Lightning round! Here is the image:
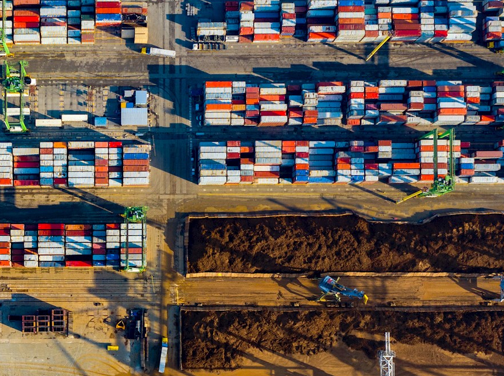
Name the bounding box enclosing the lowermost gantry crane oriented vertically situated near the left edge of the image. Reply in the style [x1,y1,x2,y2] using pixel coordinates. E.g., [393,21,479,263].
[1,60,33,128]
